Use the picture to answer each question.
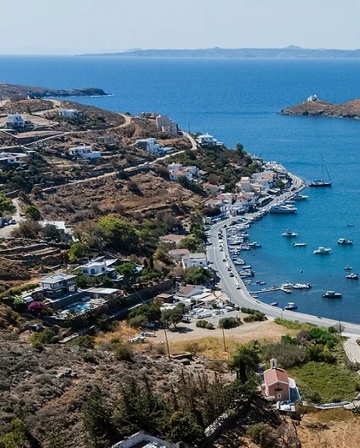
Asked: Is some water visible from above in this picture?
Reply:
Yes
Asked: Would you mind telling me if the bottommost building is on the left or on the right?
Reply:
right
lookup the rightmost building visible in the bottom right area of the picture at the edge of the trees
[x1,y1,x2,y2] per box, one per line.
[268,355,295,401]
